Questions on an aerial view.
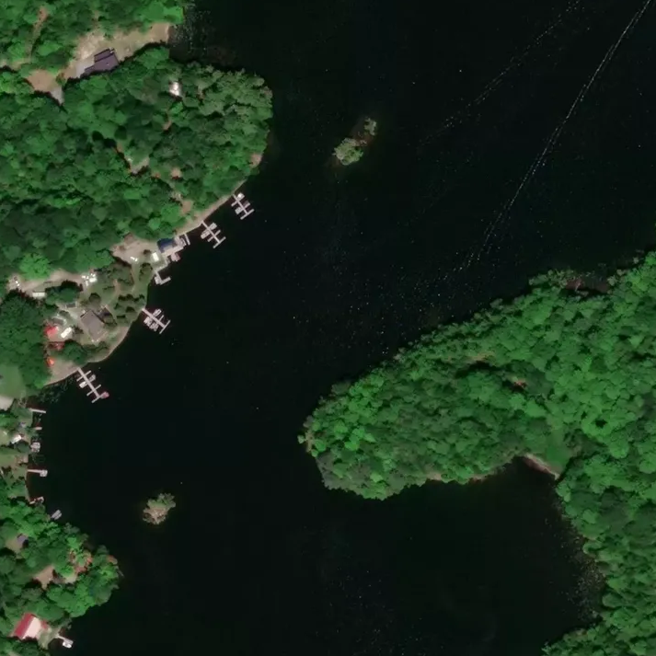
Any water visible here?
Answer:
Yes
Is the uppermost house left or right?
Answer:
left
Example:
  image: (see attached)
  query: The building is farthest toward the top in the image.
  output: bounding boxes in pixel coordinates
[84,49,119,74]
